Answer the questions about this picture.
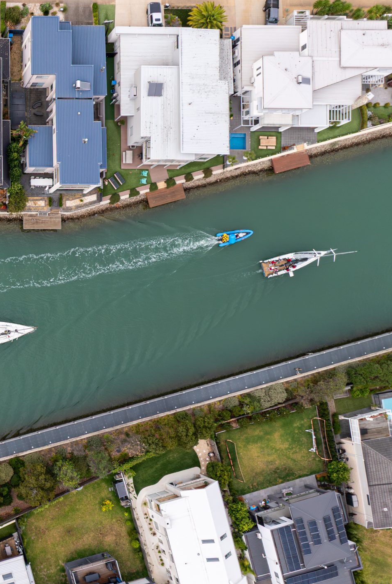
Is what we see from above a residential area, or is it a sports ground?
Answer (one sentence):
The area seen from above is a residential area.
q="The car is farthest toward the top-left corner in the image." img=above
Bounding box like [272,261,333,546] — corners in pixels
[146,1,165,27]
